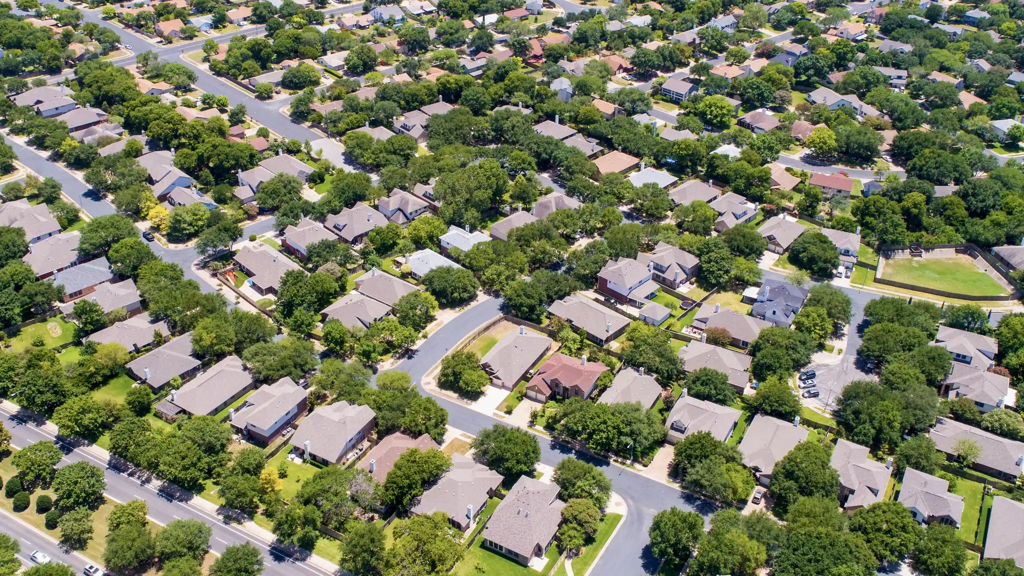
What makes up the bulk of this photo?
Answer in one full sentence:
What you mostly see from above here is trees.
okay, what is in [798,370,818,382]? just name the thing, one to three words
vehicle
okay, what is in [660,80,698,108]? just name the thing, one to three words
house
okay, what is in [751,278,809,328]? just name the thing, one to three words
house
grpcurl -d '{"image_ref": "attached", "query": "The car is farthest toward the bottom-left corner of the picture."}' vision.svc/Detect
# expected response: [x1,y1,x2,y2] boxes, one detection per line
[29,552,52,566]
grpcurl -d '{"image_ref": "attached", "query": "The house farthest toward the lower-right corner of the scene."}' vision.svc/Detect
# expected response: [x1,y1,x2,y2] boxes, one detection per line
[984,496,1024,571]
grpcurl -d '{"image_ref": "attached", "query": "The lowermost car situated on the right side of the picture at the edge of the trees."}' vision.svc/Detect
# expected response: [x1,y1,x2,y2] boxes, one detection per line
[750,487,765,504]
